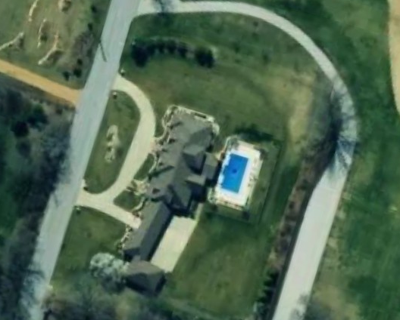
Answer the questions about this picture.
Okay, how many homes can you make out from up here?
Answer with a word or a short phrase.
1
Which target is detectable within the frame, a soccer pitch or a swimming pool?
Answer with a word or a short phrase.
swimming pool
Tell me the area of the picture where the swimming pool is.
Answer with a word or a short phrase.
center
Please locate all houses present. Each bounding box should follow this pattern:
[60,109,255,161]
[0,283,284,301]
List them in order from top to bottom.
[124,109,222,294]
